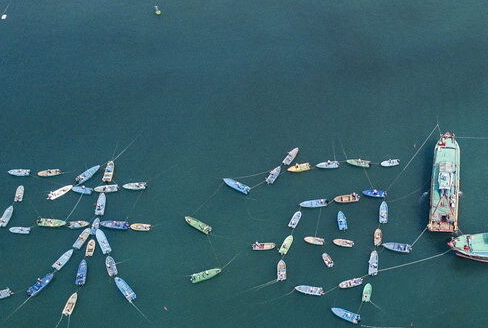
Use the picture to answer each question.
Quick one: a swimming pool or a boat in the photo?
boat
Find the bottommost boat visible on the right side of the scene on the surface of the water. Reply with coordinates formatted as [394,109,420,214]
[331,308,361,324]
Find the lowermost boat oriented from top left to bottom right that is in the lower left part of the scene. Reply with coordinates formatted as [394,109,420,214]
[116,277,138,303]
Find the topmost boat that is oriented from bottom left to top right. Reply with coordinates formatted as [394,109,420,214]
[282,147,299,166]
